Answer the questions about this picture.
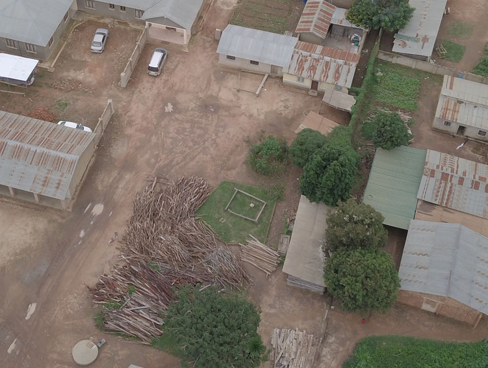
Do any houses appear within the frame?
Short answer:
Yes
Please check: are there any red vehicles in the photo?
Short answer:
No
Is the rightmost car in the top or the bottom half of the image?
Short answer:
top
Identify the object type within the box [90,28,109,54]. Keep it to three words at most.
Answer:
car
